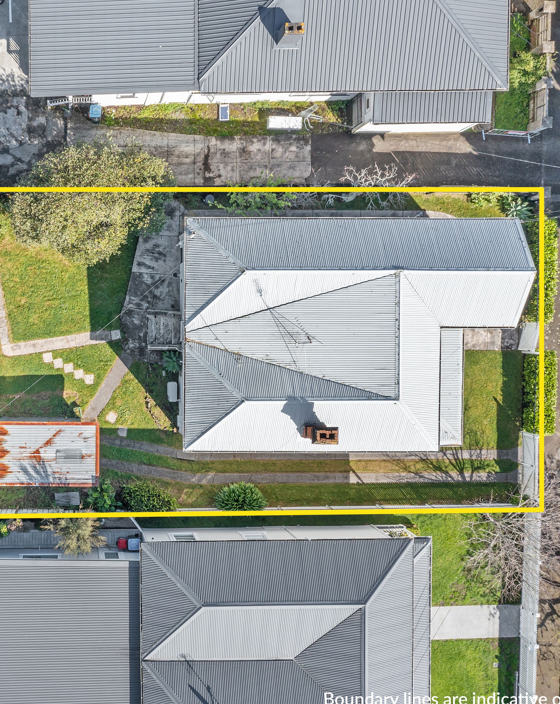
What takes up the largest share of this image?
buildings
